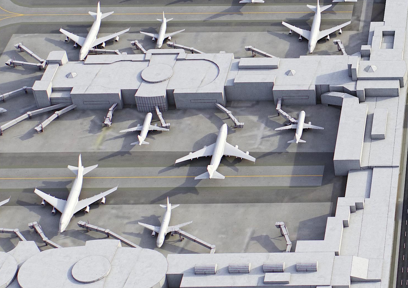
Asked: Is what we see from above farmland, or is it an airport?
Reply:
airport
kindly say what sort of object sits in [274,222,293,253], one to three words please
jet bridge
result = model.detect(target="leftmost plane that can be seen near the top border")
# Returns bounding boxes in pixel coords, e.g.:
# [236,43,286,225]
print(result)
[56,4,129,60]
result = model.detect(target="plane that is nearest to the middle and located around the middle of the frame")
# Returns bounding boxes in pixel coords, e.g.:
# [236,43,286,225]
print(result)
[173,123,255,176]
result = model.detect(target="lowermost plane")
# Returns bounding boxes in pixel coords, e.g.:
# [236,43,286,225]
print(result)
[138,199,190,247]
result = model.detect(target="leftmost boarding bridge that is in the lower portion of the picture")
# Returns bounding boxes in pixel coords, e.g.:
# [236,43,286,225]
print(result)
[0,225,28,240]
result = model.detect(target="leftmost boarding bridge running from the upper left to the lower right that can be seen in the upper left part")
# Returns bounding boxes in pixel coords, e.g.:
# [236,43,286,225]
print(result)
[13,44,47,64]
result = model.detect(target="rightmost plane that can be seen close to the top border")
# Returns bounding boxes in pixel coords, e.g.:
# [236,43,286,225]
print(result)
[280,0,351,53]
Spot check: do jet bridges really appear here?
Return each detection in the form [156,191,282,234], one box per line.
[4,59,47,71]
[274,222,293,253]
[0,225,28,240]
[105,104,118,131]
[0,86,33,104]
[130,40,147,54]
[216,103,246,129]
[169,227,217,253]
[332,39,348,55]
[165,41,205,54]
[155,107,172,129]
[77,222,141,248]
[13,44,47,64]
[33,105,78,135]
[276,99,300,126]
[27,222,62,248]
[244,46,277,58]
[0,104,69,135]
